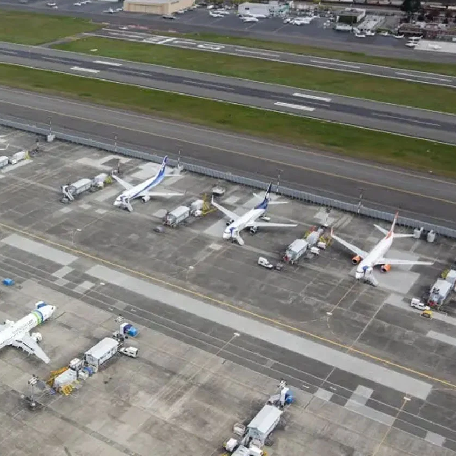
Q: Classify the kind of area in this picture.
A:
airport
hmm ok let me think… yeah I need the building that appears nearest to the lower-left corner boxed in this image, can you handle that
[84,333,121,367]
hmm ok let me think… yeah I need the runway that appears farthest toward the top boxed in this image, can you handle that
[85,28,456,85]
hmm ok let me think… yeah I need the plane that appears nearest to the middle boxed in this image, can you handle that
[210,182,292,239]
